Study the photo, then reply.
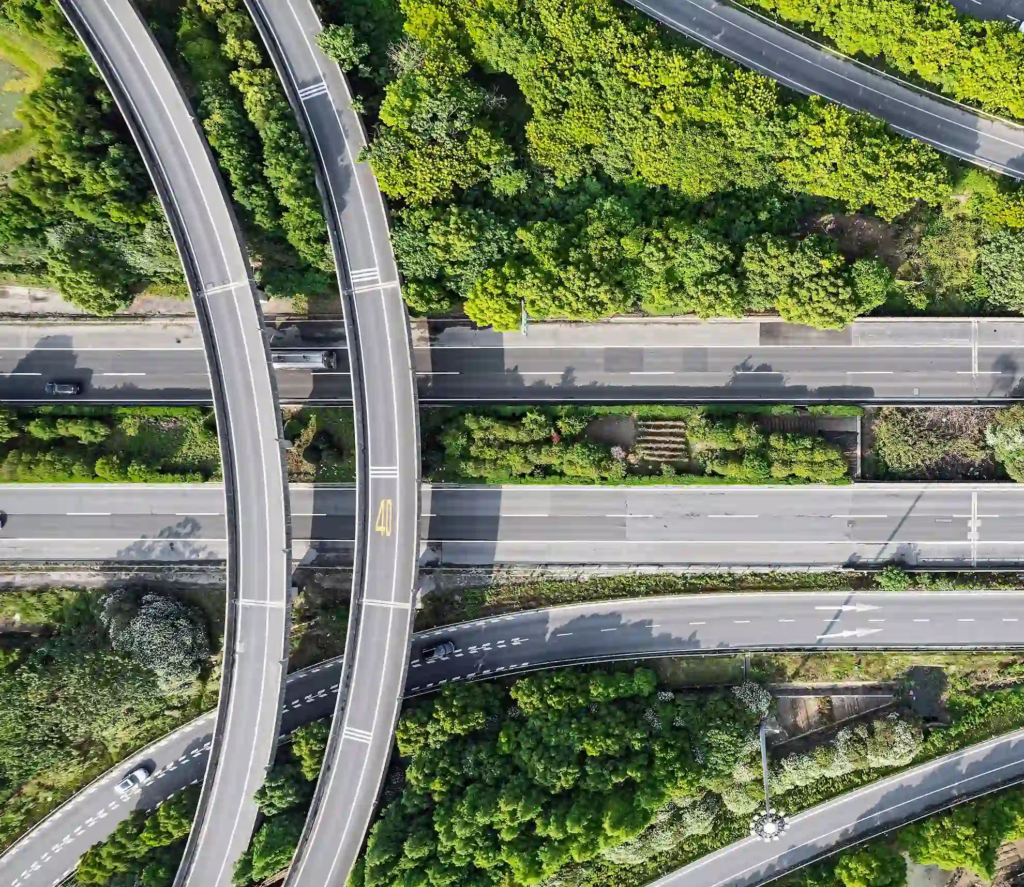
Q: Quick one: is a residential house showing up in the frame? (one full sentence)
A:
No, this view has no residential house in it.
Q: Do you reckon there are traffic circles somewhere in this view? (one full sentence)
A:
No, this view has no traffic circle in it.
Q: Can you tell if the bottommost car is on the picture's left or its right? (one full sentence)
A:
It is on the left.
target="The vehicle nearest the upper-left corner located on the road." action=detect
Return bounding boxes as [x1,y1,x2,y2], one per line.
[46,380,82,396]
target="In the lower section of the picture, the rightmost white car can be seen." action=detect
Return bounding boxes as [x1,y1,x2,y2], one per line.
[114,766,151,795]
